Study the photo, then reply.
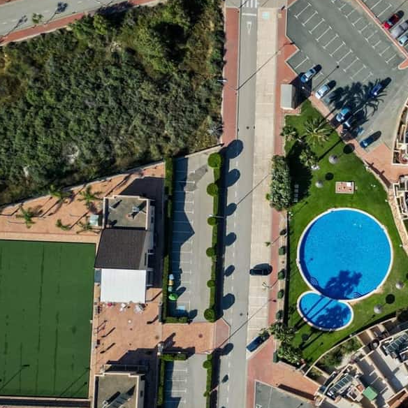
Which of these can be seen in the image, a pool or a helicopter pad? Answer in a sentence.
It is a pool that can be seen here.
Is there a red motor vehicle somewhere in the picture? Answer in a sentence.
Yes, a red motor vehicle can be made out from above.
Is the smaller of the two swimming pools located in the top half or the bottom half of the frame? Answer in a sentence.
It is in the bottom half that the smaller of the two swimming pools appears.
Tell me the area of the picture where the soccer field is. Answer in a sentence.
The soccer field is located in the bottom left region of the scene.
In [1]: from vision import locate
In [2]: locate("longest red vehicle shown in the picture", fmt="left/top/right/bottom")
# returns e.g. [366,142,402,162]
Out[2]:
[382,13,398,29]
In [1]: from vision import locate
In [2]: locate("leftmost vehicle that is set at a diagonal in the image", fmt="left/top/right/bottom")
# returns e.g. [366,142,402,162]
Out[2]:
[249,332,267,348]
